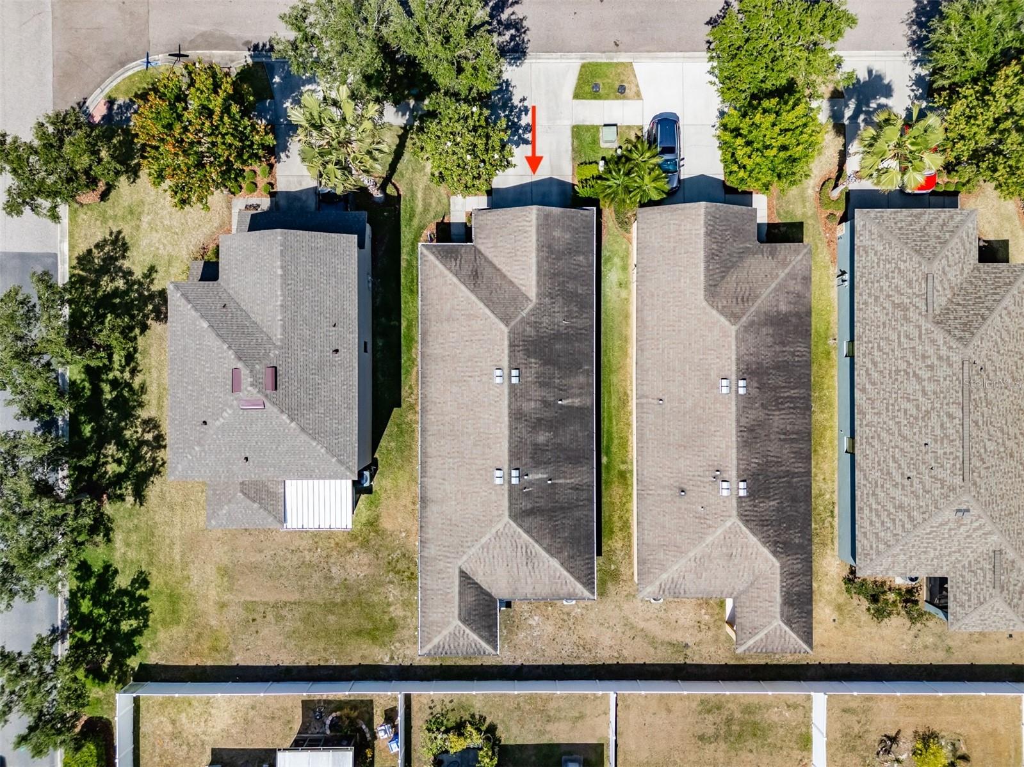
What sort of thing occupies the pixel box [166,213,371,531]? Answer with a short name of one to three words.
house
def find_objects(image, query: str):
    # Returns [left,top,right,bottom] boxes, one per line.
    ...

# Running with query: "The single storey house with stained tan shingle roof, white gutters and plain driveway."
[418,203,598,657]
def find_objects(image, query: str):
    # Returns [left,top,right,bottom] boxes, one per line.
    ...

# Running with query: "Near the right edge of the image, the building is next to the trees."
[836,208,1024,633]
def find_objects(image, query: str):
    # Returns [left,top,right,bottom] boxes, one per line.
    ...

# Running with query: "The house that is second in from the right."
[632,200,813,656]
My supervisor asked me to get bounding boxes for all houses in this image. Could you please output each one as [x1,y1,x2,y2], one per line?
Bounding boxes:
[418,203,598,657]
[632,200,813,656]
[836,208,1024,633]
[166,213,371,531]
